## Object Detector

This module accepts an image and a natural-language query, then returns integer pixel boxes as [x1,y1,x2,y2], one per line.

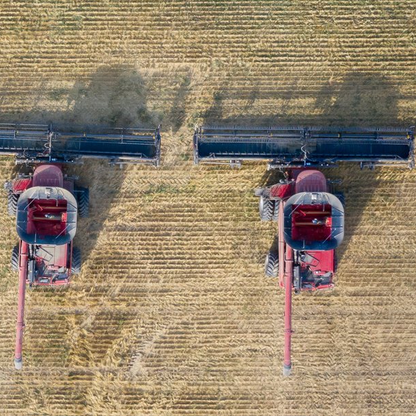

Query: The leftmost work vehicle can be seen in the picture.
[0,118,162,368]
